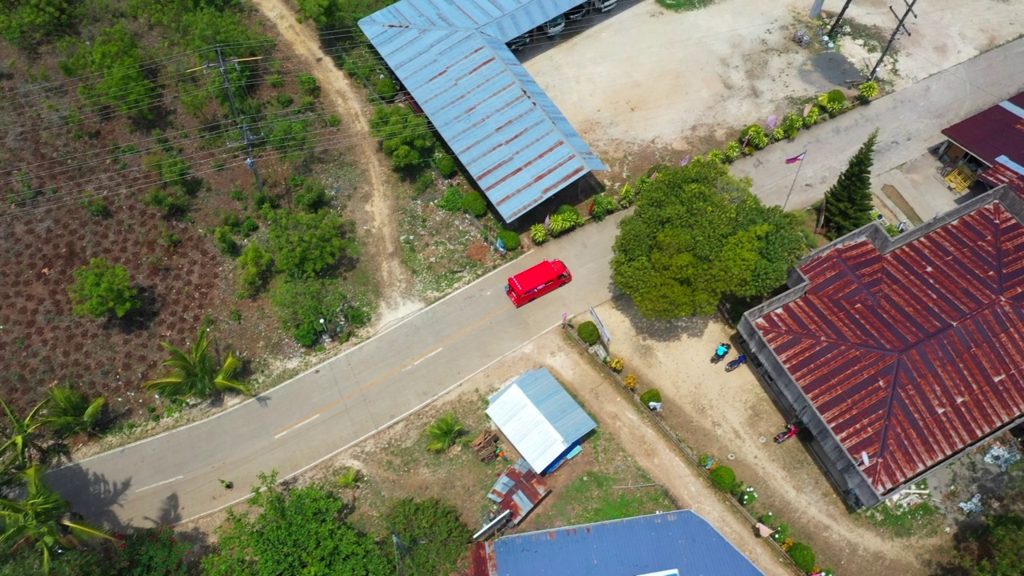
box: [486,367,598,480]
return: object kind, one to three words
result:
shed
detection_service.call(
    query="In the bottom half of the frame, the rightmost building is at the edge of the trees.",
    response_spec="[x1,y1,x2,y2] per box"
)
[734,184,1024,517]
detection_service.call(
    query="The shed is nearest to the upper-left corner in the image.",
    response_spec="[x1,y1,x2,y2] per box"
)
[358,0,618,227]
